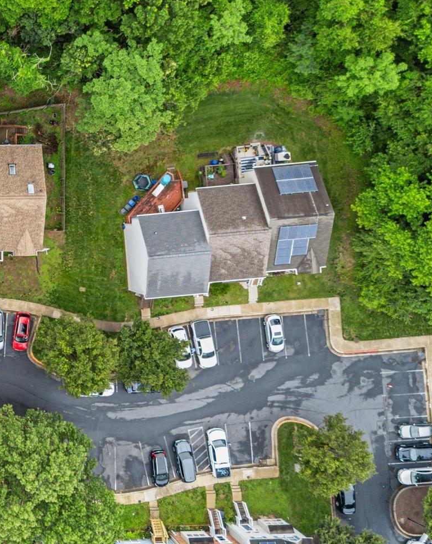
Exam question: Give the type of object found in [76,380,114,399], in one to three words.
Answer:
car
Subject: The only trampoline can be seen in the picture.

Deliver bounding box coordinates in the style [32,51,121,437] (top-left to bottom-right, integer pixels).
[132,173,156,191]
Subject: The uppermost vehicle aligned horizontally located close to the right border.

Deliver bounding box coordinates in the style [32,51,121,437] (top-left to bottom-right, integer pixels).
[393,421,432,440]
